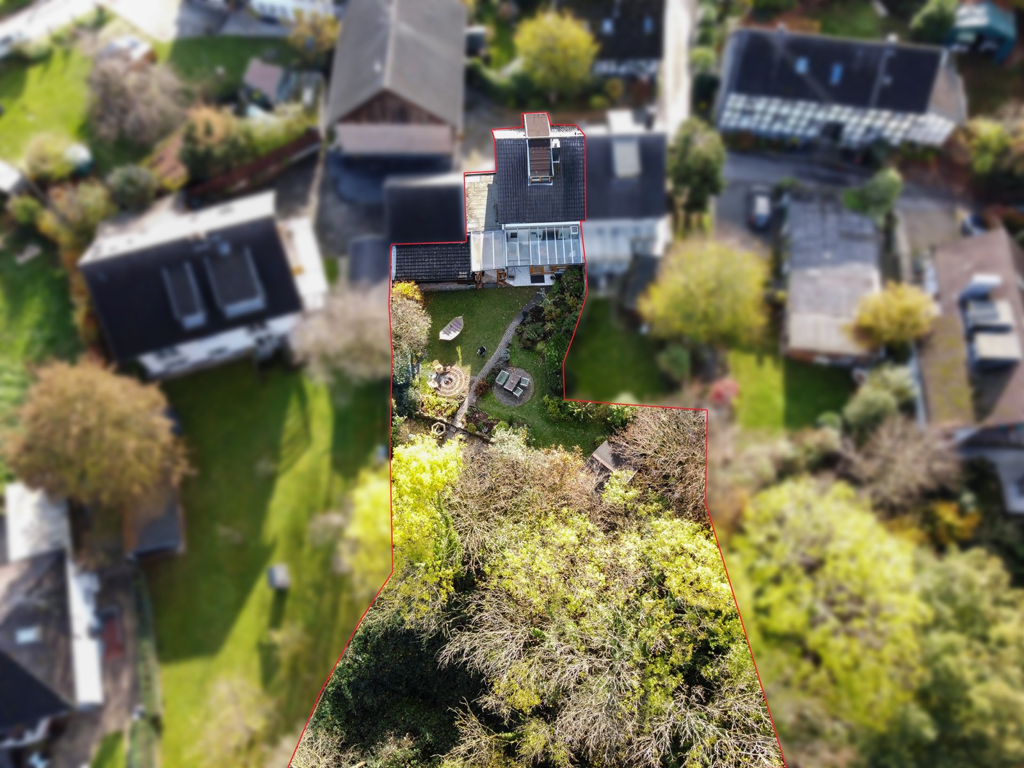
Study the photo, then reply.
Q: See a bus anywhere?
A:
No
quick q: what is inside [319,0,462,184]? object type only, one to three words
barn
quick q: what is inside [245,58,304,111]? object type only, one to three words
shed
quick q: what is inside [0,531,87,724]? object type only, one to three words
house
